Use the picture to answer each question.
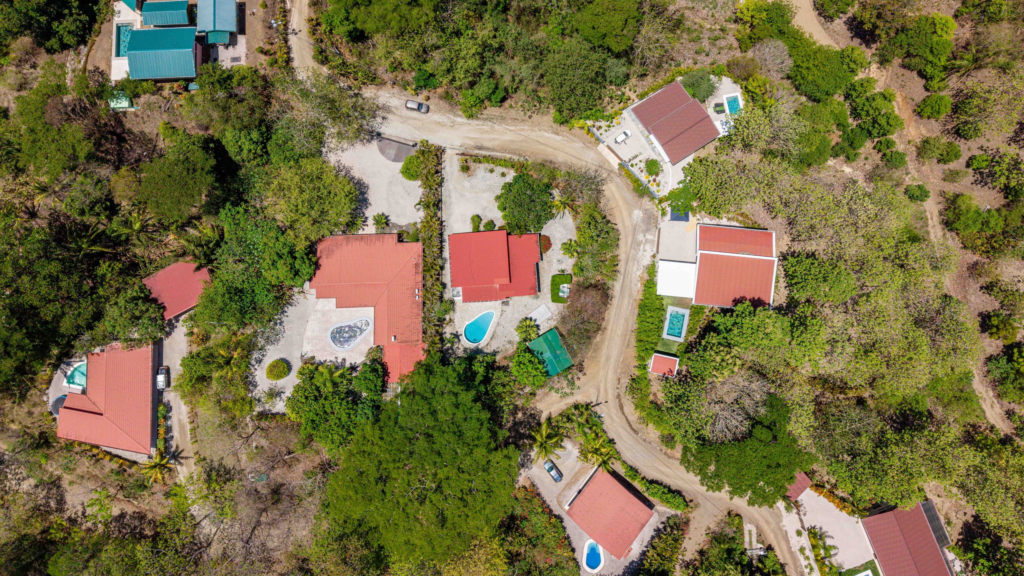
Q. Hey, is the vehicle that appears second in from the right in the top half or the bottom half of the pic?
bottom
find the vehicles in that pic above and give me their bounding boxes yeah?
[156,367,170,392]
[404,101,430,115]
[612,128,633,146]
[543,459,565,484]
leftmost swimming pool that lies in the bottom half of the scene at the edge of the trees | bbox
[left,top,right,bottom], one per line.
[65,359,87,391]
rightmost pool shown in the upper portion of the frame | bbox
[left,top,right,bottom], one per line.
[723,92,744,120]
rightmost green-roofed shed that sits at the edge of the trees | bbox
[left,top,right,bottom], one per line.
[529,328,574,378]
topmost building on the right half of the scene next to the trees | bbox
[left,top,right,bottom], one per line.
[631,80,721,165]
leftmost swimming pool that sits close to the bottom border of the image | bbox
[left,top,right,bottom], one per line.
[582,538,604,574]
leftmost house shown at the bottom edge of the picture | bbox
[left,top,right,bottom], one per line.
[563,465,655,561]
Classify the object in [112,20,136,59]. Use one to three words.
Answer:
swimming pool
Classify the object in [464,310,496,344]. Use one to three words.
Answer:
swimming pool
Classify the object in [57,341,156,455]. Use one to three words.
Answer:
house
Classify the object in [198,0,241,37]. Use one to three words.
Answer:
house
